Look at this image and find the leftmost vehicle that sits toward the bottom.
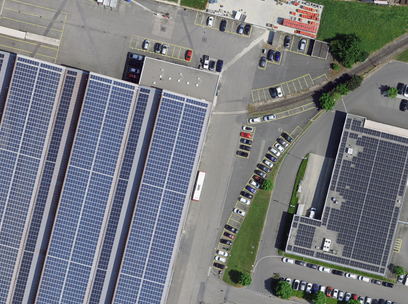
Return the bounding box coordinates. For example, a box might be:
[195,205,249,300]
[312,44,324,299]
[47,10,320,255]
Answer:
[193,172,206,202]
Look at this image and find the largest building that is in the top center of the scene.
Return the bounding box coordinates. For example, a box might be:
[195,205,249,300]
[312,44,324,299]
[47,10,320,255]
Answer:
[138,56,220,102]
